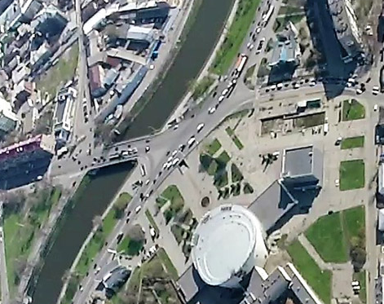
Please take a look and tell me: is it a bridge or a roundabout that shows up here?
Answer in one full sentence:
It is a bridge that can be seen here.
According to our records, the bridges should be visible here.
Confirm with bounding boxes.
[80,130,159,181]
